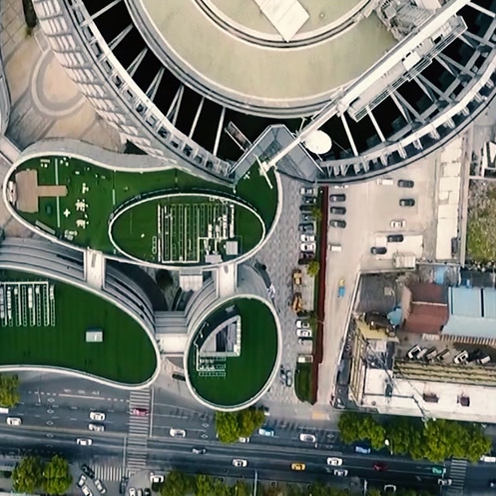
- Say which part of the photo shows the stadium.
top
